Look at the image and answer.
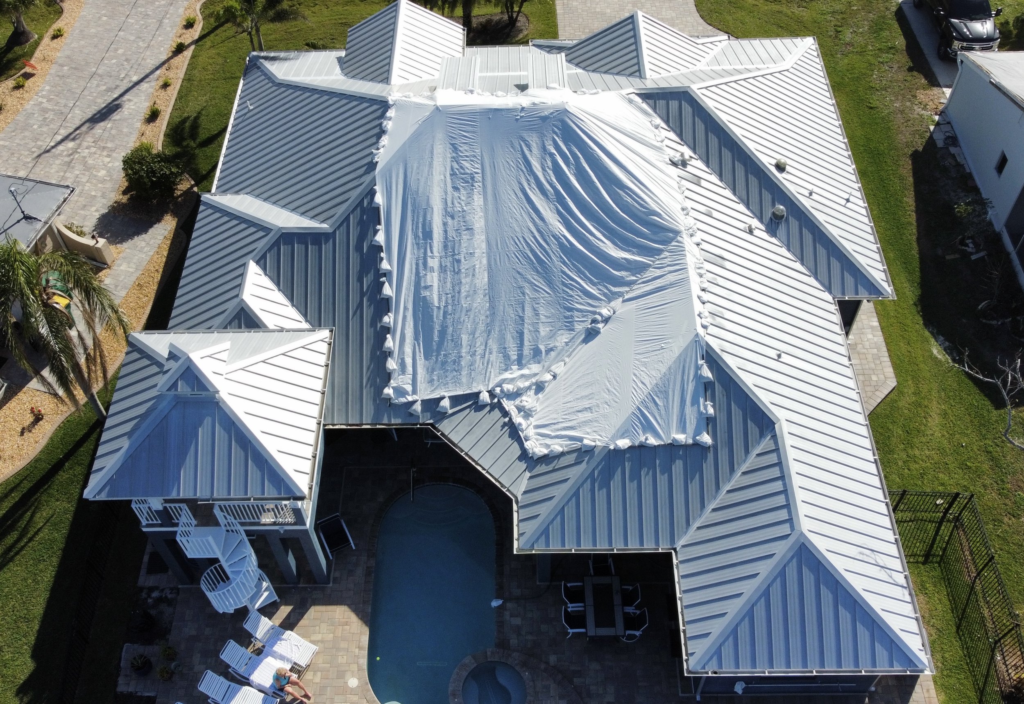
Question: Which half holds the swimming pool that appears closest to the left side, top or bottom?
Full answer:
The swimming pool that appears closest to the left side sits in the bottom half of the picture.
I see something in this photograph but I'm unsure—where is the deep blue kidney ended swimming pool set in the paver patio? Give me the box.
[354,472,508,704]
